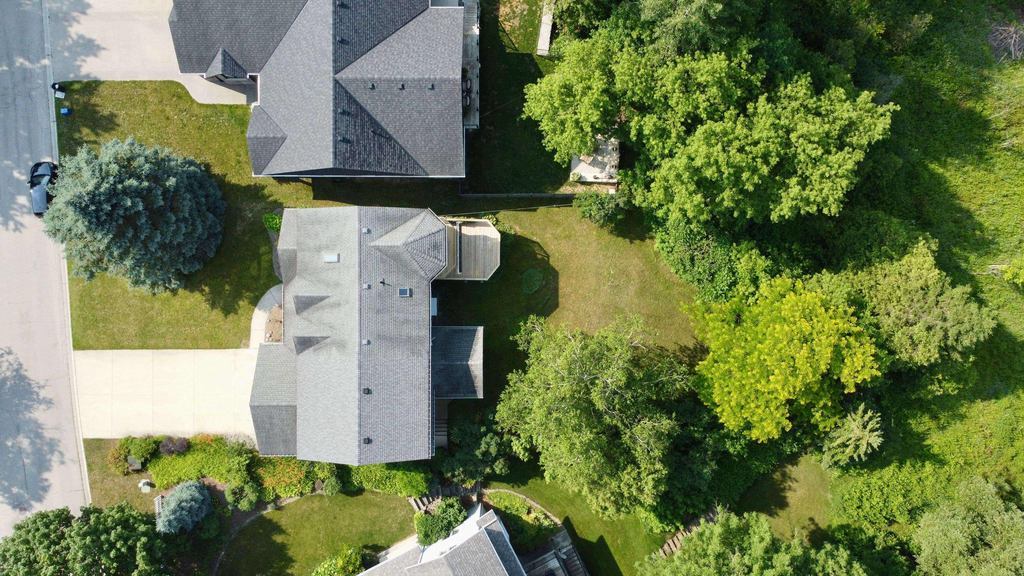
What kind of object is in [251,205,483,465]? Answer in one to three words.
house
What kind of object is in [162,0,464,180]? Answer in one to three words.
house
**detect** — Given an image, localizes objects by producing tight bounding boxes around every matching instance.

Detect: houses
[350,500,528,576]
[162,0,464,180]
[251,205,483,465]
